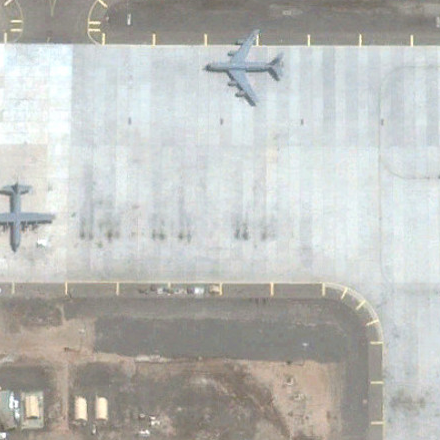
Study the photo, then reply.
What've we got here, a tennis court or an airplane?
airplane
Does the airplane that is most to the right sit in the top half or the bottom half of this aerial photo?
top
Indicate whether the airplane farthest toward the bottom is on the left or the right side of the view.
left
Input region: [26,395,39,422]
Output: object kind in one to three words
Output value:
tent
